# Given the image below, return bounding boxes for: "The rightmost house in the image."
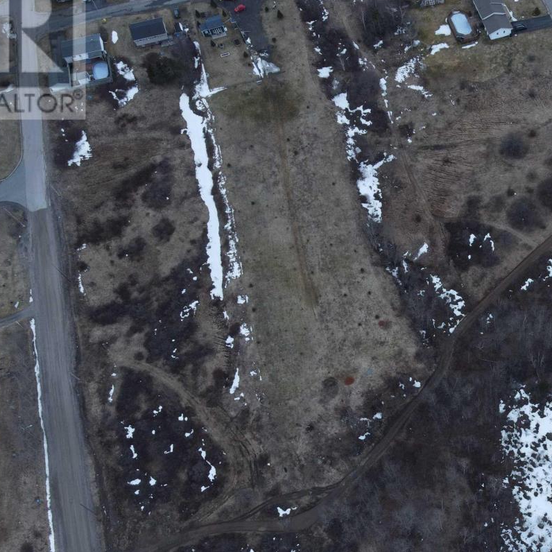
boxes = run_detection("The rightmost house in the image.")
[475,0,513,43]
